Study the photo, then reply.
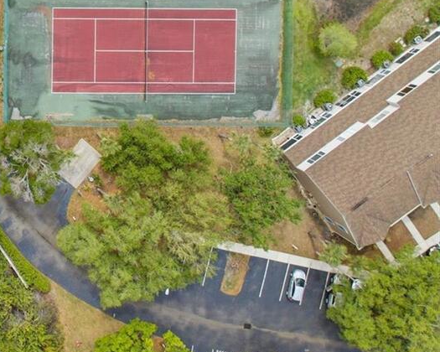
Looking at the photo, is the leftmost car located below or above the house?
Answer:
below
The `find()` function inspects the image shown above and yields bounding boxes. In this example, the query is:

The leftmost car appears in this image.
[284,266,307,303]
